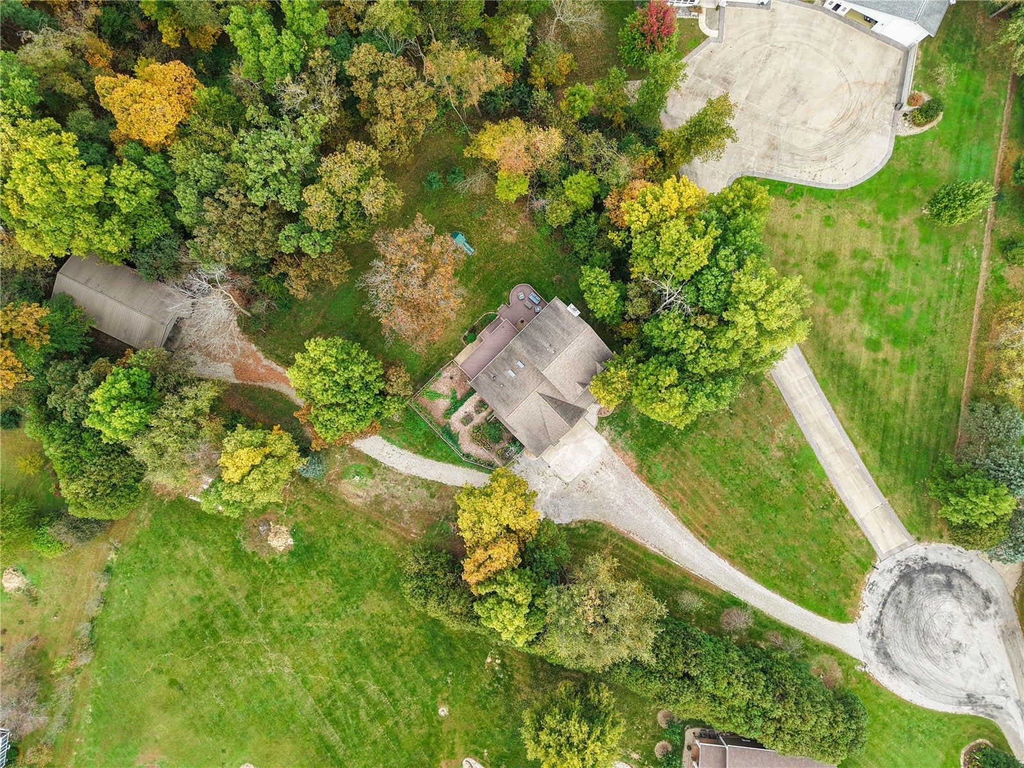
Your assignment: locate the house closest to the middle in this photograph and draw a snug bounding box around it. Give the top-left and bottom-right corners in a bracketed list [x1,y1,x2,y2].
[468,297,616,455]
